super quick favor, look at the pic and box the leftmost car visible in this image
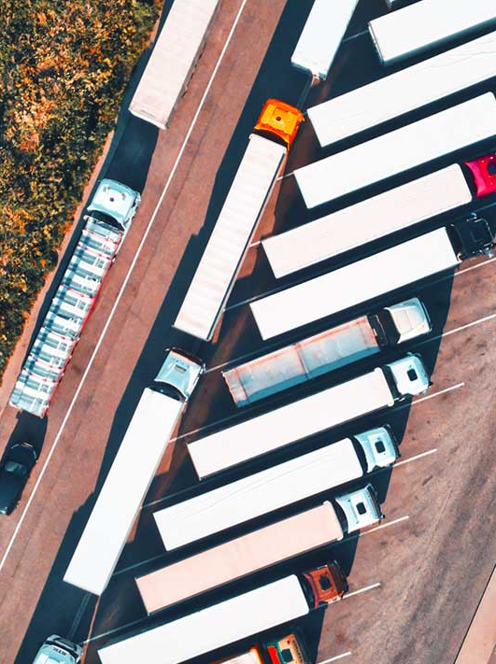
[0,441,36,515]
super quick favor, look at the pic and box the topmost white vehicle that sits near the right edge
[368,0,496,69]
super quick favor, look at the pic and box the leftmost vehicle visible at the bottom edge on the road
[40,631,92,664]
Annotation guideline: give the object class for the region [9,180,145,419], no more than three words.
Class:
truck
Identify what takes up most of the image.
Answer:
paved ground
